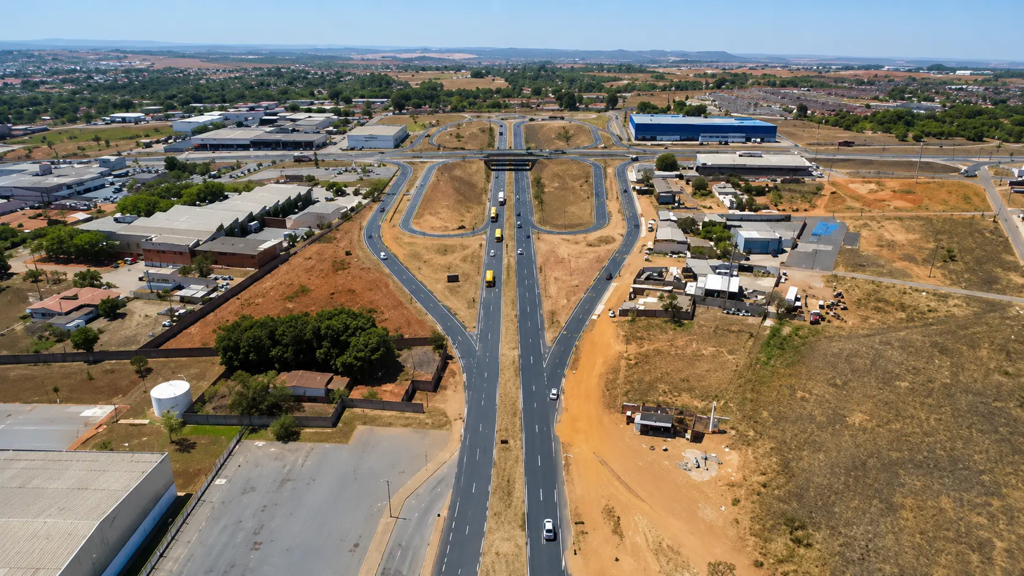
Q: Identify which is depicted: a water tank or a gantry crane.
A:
water tank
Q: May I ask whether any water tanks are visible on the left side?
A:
Yes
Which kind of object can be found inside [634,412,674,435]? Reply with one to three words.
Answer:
shed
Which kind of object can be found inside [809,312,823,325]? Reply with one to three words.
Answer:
vehicle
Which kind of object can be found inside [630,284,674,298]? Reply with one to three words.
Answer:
building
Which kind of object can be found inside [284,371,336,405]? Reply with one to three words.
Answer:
house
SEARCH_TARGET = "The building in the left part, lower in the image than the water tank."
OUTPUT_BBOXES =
[0,449,177,576]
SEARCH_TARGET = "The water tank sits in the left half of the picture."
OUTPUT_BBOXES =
[151,370,201,418]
